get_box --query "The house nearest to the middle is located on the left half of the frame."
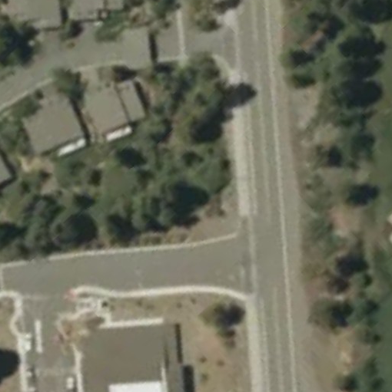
[84,82,145,141]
